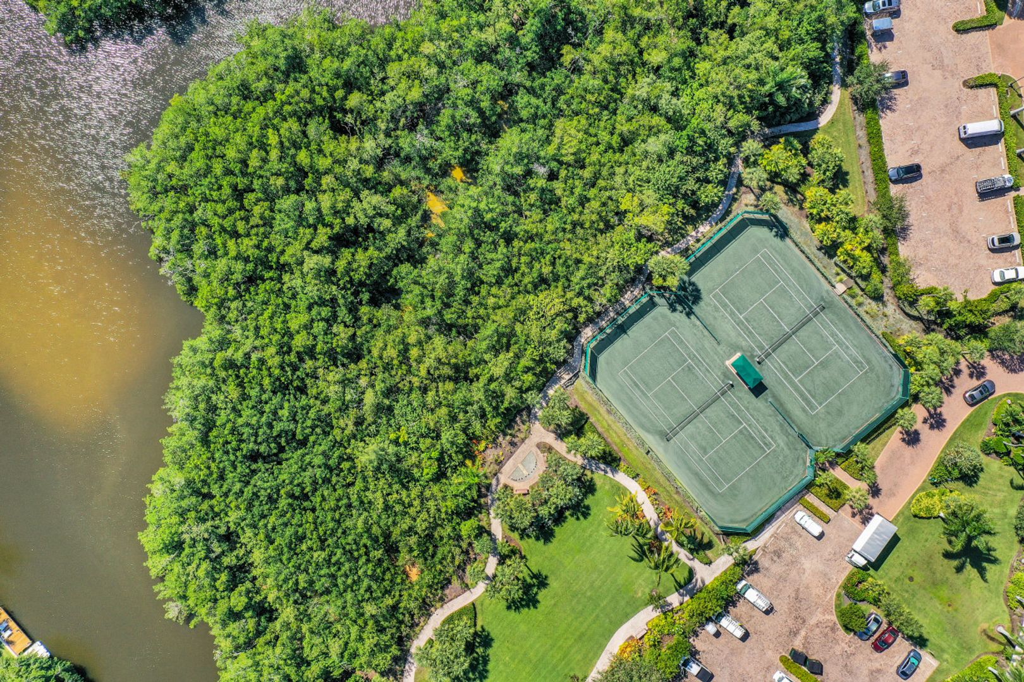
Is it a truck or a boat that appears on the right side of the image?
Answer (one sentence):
The one visible on the right side of the image is a truck.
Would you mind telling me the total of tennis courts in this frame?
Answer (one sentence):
The count of tennis courts comes to 2.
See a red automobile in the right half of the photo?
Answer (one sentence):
Yes, the scene does show a red automobile in the right half of the photo.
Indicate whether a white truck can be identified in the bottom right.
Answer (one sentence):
Yes, a white truck shows up in the bottom right.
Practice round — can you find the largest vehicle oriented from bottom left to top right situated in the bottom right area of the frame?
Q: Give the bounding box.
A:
[847,510,898,565]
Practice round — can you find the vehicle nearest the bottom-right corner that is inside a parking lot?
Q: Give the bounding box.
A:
[896,649,921,681]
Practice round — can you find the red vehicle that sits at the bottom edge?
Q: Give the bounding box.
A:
[871,624,900,654]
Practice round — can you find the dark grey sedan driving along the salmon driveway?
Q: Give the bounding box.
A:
[961,379,994,406]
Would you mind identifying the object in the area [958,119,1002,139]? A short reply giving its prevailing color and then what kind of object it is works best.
white vehicle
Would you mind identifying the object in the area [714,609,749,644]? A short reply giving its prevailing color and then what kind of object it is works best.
white van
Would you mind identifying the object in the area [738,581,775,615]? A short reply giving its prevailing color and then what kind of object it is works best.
white van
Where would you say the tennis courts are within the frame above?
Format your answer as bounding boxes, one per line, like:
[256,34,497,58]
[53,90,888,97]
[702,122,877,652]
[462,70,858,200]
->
[677,212,903,448]
[586,294,813,528]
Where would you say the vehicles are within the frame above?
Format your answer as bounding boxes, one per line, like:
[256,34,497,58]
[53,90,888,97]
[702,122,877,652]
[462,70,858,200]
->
[973,175,1013,193]
[705,622,721,636]
[986,234,1019,249]
[855,611,883,642]
[961,379,994,406]
[869,17,894,34]
[888,164,922,180]
[896,649,921,681]
[738,581,775,615]
[866,0,901,16]
[714,609,749,644]
[958,119,1002,139]
[877,69,910,86]
[768,667,795,682]
[871,624,900,654]
[991,267,1024,282]
[793,511,824,538]
[847,510,898,565]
